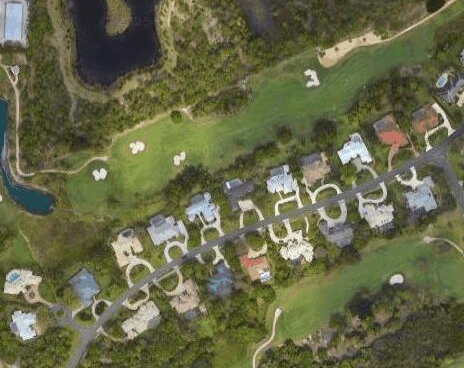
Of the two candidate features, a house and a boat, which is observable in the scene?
house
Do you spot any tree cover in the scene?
Yes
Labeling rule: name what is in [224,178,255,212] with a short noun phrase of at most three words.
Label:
house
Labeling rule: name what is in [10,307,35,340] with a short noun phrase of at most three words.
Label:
house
